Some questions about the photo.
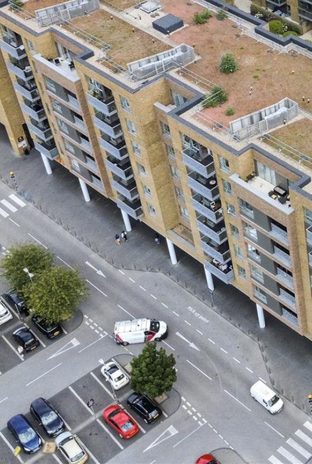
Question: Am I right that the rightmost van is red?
No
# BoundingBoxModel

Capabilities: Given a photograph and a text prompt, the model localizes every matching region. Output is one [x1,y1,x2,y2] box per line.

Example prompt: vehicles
[53,427,91,464]
[27,311,65,343]
[3,410,46,455]
[99,401,142,443]
[113,315,169,347]
[245,375,289,419]
[3,287,34,317]
[125,390,163,426]
[26,393,67,437]
[0,297,14,326]
[8,322,42,354]
[98,358,134,392]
